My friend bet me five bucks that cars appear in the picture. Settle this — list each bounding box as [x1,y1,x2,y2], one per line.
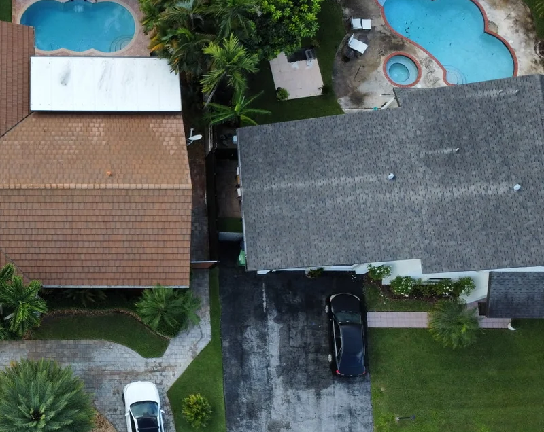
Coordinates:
[123,380,168,432]
[323,293,371,378]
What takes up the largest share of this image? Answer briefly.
buildings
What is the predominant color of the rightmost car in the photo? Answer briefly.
black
